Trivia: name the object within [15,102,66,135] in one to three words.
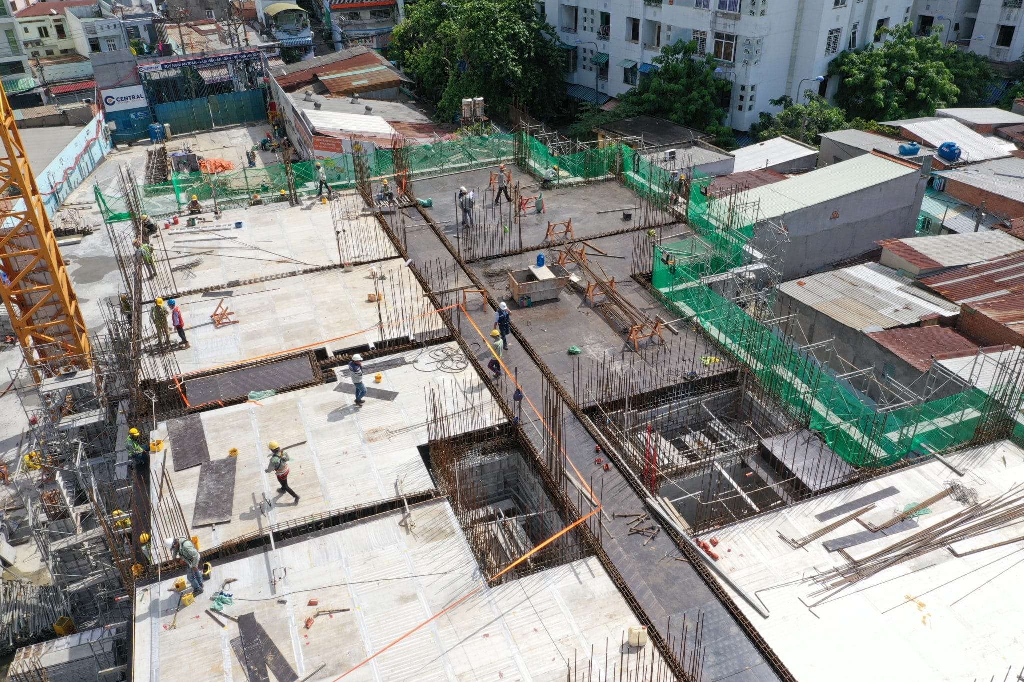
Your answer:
house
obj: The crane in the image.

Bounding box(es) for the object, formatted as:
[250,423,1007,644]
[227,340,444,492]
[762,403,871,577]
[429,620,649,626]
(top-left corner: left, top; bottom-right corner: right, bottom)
[0,90,110,447]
